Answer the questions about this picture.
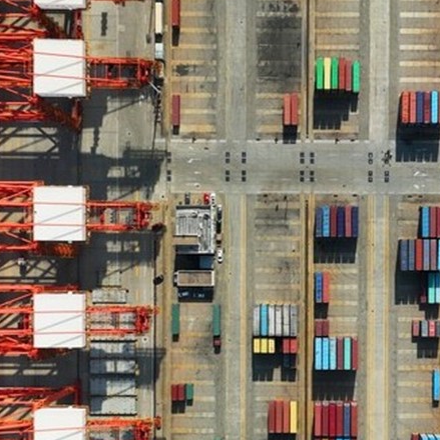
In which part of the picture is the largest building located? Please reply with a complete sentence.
The largest building appears toward the center of the photo.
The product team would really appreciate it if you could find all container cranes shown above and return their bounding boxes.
[0,179,159,259]
[0,369,159,440]
[0,0,94,41]
[0,271,159,363]
[0,33,159,125]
